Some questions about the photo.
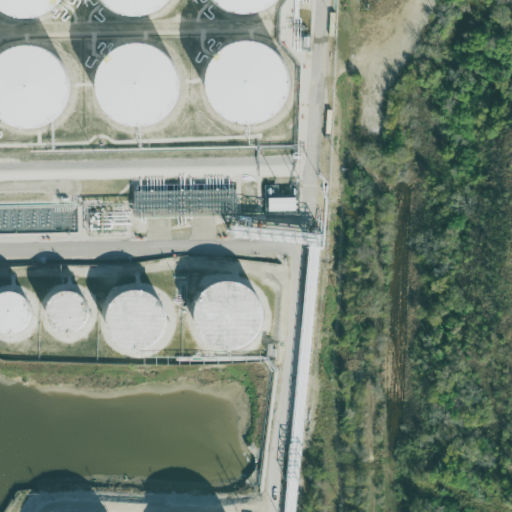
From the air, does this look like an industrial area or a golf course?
industrial area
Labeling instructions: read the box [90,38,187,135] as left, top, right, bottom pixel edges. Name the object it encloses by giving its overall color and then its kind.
white storage tank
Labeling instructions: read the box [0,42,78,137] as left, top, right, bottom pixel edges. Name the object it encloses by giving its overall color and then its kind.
white storage tank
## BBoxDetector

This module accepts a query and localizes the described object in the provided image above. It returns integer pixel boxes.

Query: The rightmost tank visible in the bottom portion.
[188,276,272,358]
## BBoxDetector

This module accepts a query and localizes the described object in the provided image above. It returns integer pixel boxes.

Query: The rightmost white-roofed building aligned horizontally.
[268,198,298,212]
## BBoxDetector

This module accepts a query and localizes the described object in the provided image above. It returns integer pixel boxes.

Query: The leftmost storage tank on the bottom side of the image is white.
[0,286,38,341]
